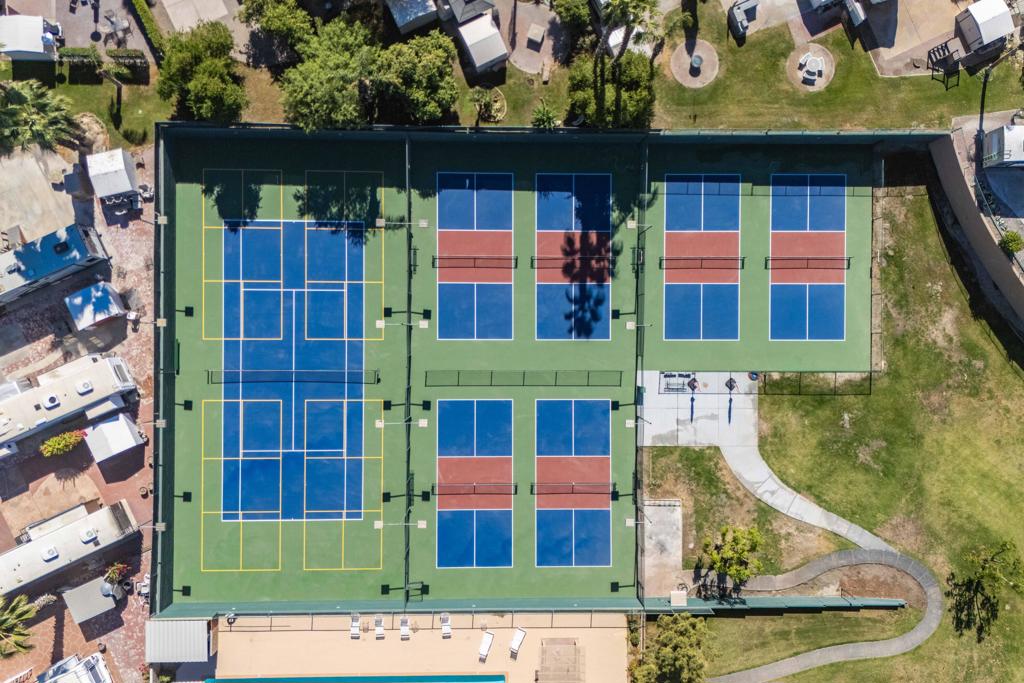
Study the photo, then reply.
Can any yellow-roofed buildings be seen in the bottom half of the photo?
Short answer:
No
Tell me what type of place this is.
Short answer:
sports ground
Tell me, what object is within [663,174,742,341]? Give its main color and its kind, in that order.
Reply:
blue sports court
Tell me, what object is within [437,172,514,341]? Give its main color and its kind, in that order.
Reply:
blue sports court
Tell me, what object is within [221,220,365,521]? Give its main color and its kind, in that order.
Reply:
blue tennis court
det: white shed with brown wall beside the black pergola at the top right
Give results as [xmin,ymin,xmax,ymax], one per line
[947,0,1016,56]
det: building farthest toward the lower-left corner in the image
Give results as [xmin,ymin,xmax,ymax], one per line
[146,620,219,662]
